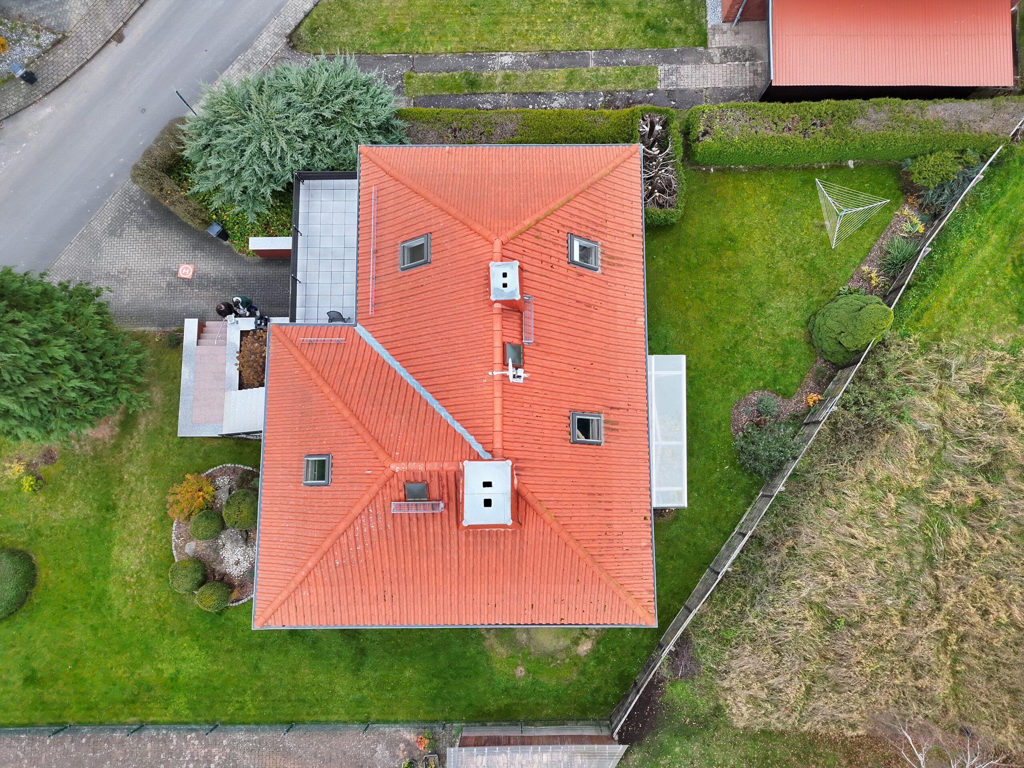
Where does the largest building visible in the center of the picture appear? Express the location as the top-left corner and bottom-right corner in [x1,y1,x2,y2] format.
[250,142,658,630]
